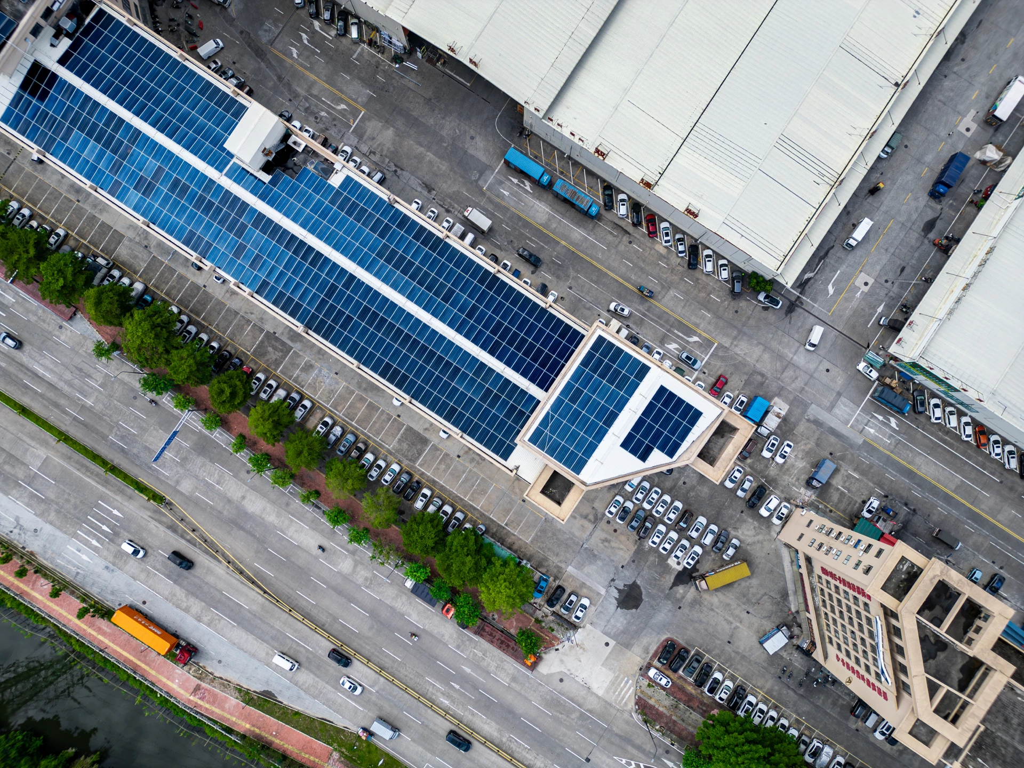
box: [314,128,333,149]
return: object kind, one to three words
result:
vehicle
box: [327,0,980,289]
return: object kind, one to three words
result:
warehouse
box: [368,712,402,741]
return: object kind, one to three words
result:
truck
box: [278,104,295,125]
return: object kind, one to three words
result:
car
